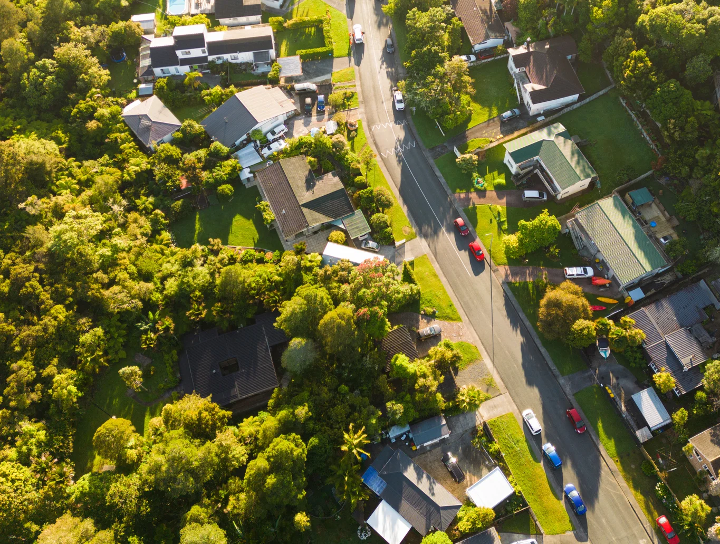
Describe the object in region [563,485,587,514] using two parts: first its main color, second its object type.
blue car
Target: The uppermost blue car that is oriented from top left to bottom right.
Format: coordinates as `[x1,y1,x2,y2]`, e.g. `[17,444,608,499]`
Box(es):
[542,444,562,469]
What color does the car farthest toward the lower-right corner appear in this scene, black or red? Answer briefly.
red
